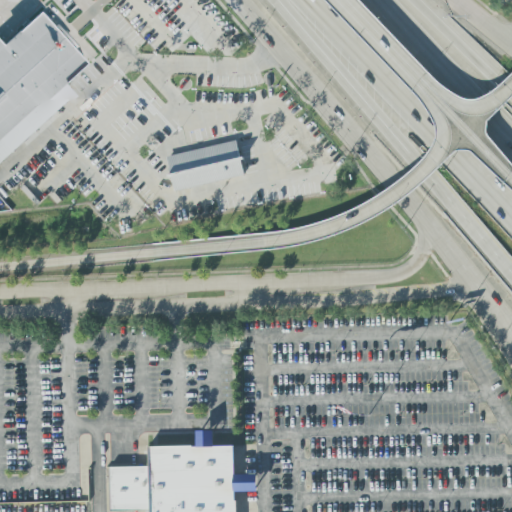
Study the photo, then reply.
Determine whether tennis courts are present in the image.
No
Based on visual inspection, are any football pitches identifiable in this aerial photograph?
No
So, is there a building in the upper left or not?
Yes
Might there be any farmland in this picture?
No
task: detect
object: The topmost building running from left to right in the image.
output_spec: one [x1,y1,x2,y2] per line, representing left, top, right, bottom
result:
[168,141,248,190]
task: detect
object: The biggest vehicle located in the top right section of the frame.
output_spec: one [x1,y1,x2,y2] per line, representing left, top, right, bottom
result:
[404,128,424,150]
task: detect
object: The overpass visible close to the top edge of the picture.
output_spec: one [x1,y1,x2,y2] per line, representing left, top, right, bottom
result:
[326,0,512,190]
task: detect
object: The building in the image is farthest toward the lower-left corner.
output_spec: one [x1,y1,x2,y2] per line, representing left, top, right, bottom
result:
[108,430,258,512]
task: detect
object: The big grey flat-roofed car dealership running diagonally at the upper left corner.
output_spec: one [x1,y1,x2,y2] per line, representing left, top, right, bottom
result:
[0,0,90,166]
